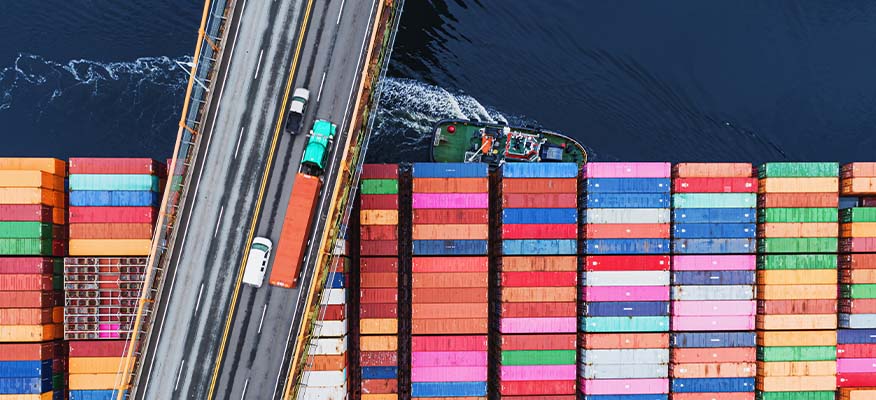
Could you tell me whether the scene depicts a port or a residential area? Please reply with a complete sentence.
What you see here is a port.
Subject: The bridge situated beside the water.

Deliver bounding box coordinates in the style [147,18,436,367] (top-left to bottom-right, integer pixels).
[110,0,405,400]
